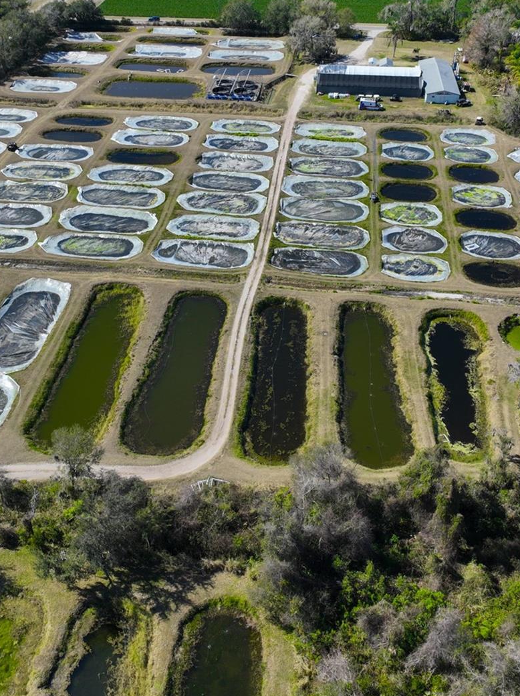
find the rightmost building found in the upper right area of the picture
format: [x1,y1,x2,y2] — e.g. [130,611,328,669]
[407,49,465,103]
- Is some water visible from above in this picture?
Yes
